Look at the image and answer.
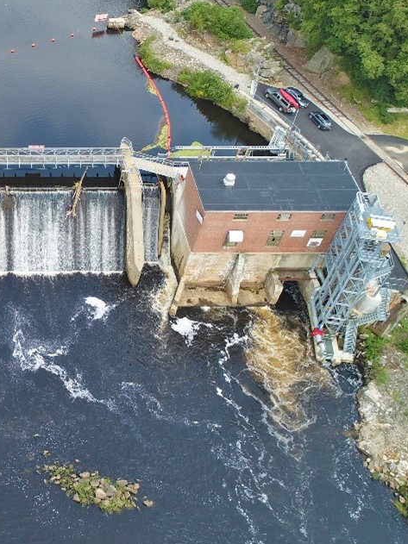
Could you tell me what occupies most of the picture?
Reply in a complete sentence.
The scene is dominated by water.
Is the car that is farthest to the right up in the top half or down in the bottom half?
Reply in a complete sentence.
The car that is farthest to the right sits in the top half of the picture.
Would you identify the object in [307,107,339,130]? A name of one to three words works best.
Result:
car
